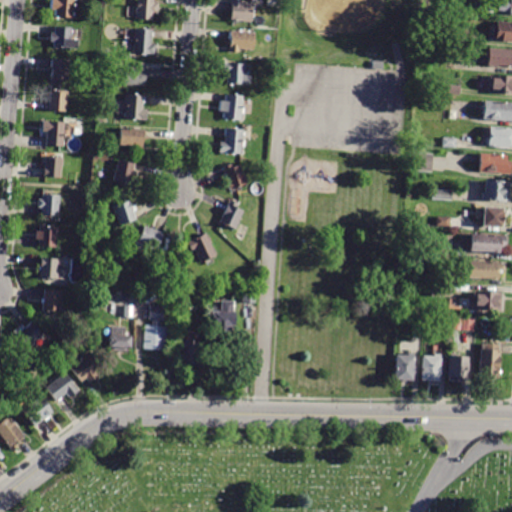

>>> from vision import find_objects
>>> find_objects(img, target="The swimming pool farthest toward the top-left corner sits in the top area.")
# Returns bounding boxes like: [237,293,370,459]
[67,138,81,154]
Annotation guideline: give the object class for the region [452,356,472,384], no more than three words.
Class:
house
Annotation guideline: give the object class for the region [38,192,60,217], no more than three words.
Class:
house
